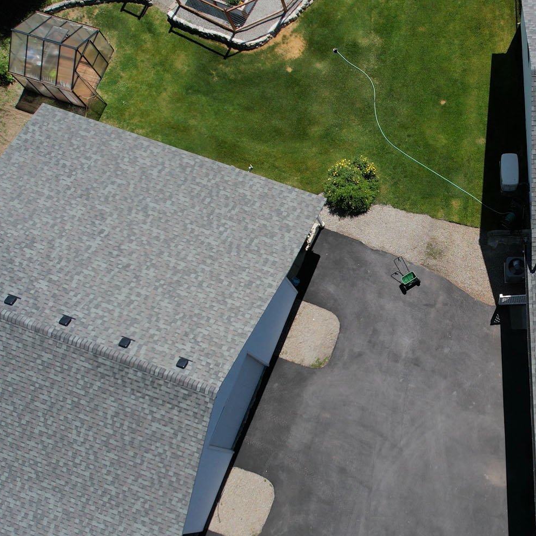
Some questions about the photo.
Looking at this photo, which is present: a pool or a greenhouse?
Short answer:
greenhouse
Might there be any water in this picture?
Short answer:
No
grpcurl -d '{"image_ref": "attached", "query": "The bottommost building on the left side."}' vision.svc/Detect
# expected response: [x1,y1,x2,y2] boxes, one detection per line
[0,101,330,536]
